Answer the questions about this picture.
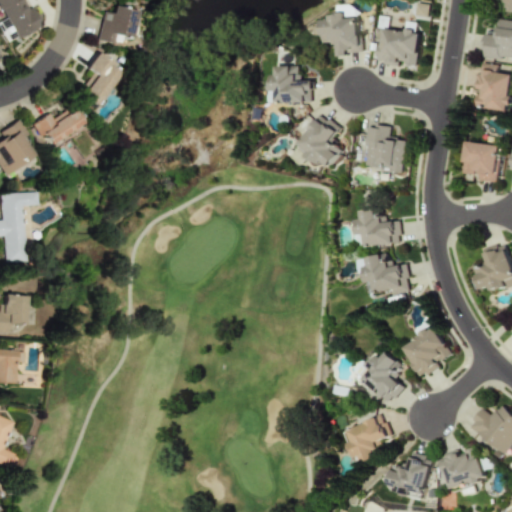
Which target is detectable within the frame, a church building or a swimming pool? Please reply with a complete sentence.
This aerial view contains a swimming pool.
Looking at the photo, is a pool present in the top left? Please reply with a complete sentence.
Yes, I can see a pool in the top left.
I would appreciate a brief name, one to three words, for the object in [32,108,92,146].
house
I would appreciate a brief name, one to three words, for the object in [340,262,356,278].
swimming pool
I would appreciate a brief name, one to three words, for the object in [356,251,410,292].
house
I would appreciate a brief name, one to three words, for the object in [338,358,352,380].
swimming pool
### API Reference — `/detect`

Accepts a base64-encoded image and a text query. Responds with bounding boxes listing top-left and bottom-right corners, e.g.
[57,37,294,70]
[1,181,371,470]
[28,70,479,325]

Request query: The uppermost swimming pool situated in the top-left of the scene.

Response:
[99,94,122,118]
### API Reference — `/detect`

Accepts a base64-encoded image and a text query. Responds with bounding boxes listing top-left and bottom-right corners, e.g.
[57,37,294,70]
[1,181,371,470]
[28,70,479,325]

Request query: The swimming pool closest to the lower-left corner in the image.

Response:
[25,347,39,372]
